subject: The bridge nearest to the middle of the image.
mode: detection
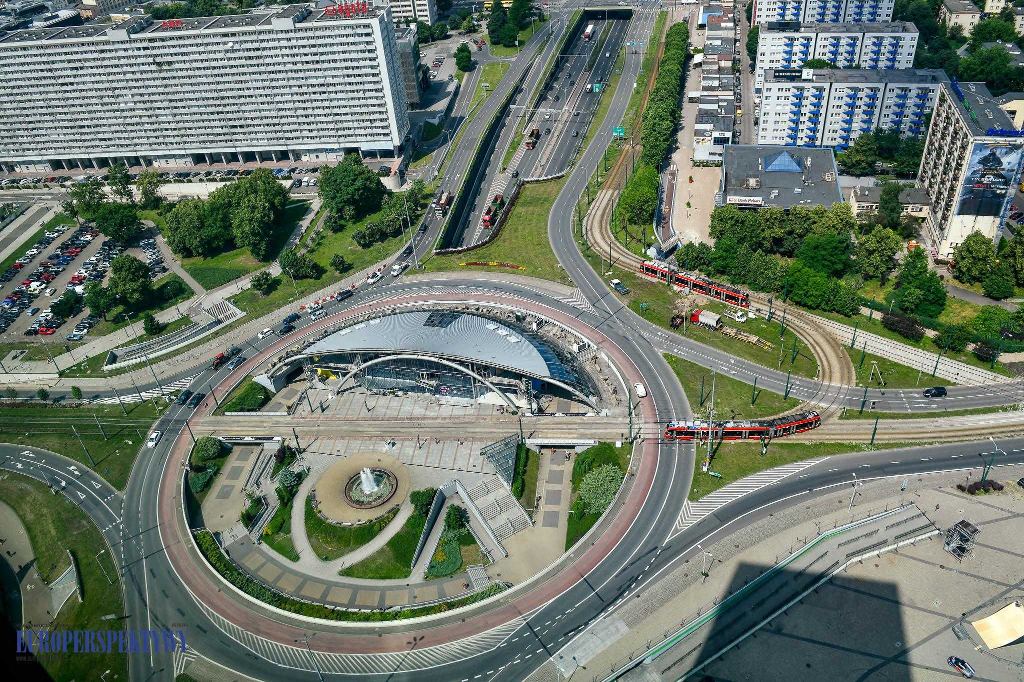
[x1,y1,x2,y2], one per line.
[521,412,628,457]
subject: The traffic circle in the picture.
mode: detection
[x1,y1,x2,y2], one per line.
[120,279,695,682]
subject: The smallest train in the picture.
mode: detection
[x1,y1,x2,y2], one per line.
[642,259,754,307]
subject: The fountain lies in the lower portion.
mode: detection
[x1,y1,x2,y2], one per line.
[342,464,398,509]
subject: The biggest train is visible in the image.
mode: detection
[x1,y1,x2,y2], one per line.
[666,402,821,439]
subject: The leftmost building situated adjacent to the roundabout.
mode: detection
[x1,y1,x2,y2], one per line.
[0,0,411,174]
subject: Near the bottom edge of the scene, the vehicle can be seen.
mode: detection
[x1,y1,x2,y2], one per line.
[943,652,980,681]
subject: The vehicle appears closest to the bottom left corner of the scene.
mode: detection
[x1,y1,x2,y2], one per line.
[146,429,160,445]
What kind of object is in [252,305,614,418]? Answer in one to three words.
building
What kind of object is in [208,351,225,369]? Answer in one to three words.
work vehicle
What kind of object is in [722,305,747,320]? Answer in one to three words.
vehicle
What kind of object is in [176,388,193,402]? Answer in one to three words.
car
